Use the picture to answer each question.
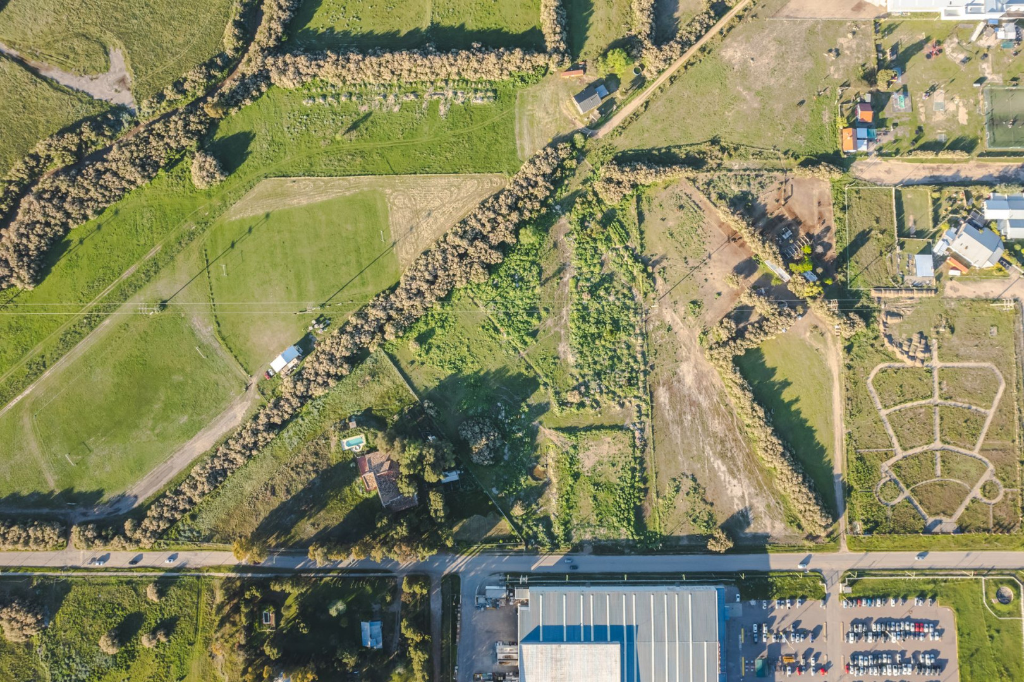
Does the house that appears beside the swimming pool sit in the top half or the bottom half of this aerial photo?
bottom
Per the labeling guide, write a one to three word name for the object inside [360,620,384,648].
house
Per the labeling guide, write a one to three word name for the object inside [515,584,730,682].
building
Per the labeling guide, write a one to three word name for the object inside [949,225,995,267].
house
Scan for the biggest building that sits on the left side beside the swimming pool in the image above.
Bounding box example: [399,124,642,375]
[357,449,418,512]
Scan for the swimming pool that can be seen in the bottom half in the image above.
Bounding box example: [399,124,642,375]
[340,436,364,453]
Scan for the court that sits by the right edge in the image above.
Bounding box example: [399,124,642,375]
[986,86,1024,148]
